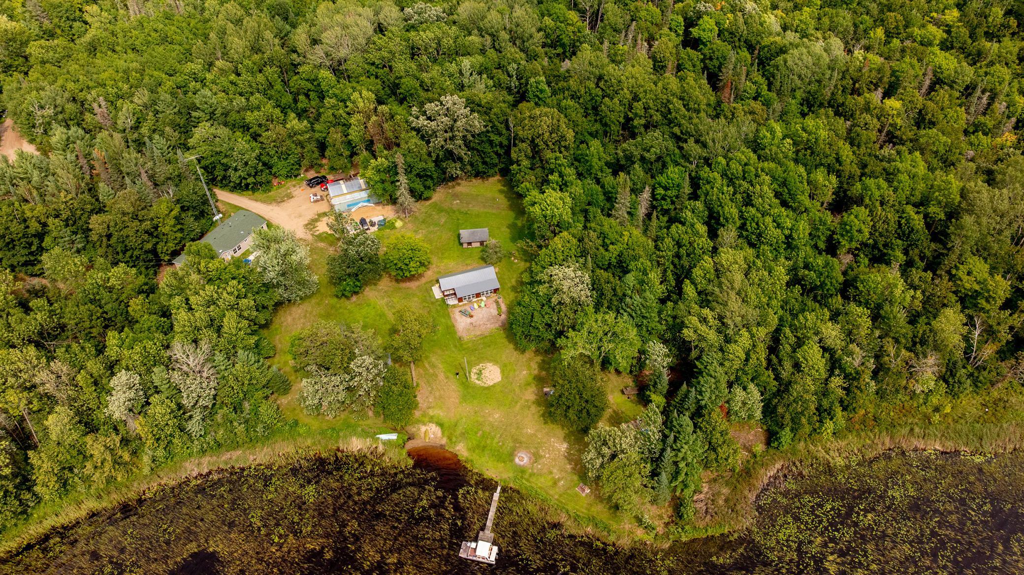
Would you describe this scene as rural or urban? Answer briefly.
rural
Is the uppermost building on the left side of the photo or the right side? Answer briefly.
left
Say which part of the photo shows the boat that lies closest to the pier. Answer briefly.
bottom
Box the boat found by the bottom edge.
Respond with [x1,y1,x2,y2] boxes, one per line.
[460,542,500,565]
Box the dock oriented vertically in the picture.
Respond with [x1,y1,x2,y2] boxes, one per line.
[478,484,501,547]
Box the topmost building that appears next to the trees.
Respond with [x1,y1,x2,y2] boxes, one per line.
[326,174,384,212]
